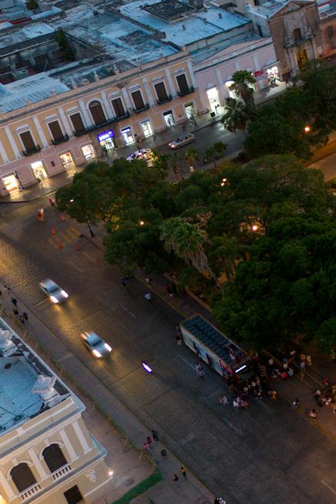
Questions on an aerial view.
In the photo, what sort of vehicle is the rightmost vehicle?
bus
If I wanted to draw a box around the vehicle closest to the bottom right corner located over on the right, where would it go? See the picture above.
[184,317,257,389]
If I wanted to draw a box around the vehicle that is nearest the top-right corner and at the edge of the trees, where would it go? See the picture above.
[166,130,197,148]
